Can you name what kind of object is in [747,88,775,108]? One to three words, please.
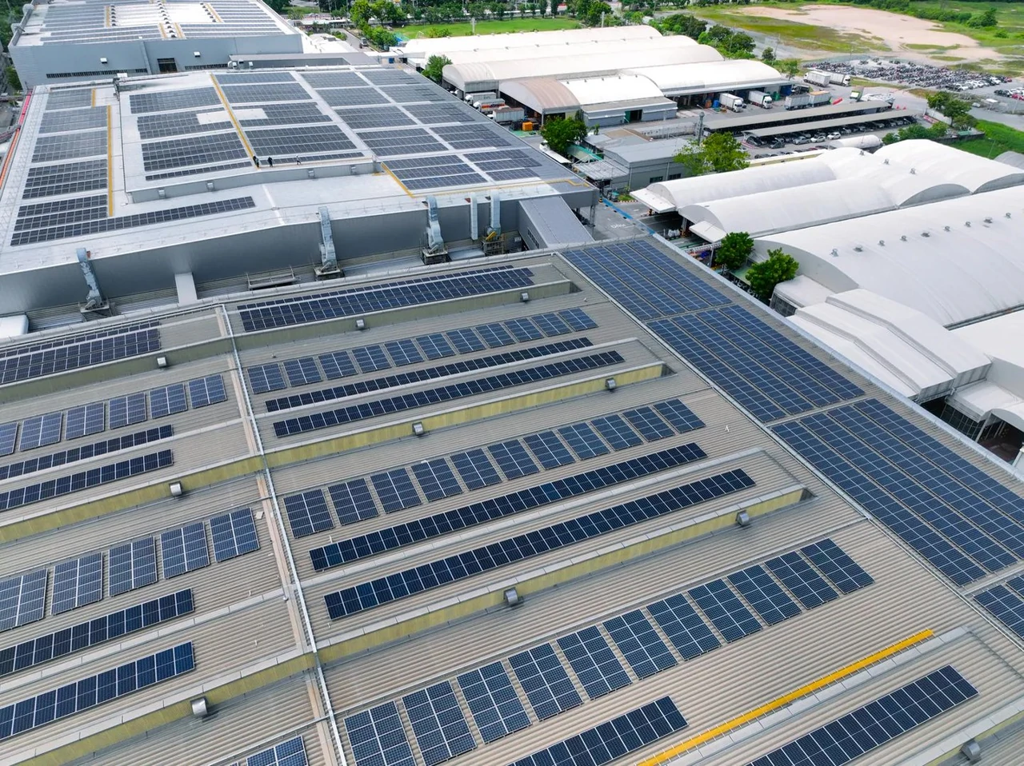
vehicle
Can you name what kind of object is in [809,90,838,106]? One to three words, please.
vehicle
